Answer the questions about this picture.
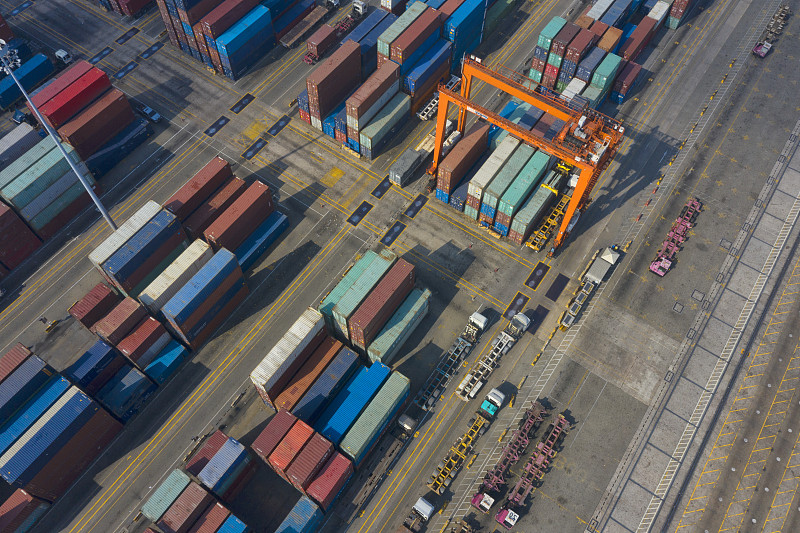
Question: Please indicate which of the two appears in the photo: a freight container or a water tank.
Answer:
freight container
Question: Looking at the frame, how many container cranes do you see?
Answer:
1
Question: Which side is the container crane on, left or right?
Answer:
right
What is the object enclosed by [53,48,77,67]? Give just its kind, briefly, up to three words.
vehicle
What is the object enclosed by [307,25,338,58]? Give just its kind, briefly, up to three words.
shipping container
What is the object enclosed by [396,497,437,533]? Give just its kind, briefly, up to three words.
truck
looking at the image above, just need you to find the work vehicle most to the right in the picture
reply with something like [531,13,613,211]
[749,2,795,63]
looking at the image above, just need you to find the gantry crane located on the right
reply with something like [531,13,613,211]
[423,45,638,259]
